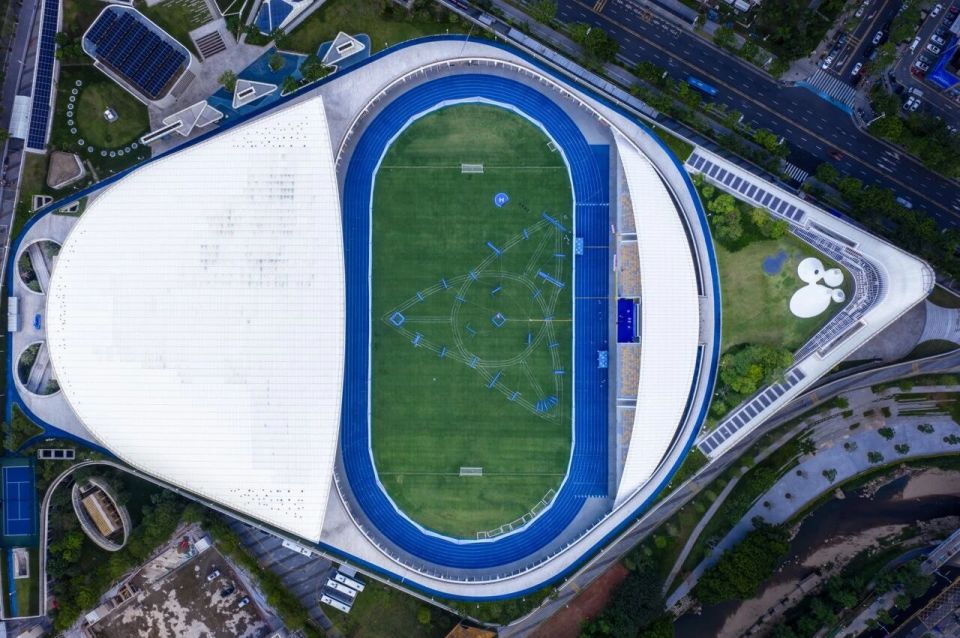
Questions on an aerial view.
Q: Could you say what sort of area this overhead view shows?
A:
sports ground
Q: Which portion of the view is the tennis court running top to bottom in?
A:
bottom left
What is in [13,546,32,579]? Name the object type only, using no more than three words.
building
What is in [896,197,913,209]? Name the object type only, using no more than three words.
vehicle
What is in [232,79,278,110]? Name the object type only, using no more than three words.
building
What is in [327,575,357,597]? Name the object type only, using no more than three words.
bus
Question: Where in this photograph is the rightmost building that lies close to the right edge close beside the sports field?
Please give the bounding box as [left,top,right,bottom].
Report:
[682,146,938,460]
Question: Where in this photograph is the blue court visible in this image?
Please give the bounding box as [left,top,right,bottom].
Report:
[0,457,40,550]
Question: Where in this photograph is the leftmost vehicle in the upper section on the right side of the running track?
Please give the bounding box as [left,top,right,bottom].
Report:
[684,76,719,100]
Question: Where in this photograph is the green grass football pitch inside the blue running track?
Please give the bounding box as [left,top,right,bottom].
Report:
[368,96,576,543]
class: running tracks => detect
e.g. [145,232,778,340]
[345,75,609,568]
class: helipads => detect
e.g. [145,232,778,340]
[494,192,509,207]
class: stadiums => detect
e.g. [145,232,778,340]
[5,33,724,603]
